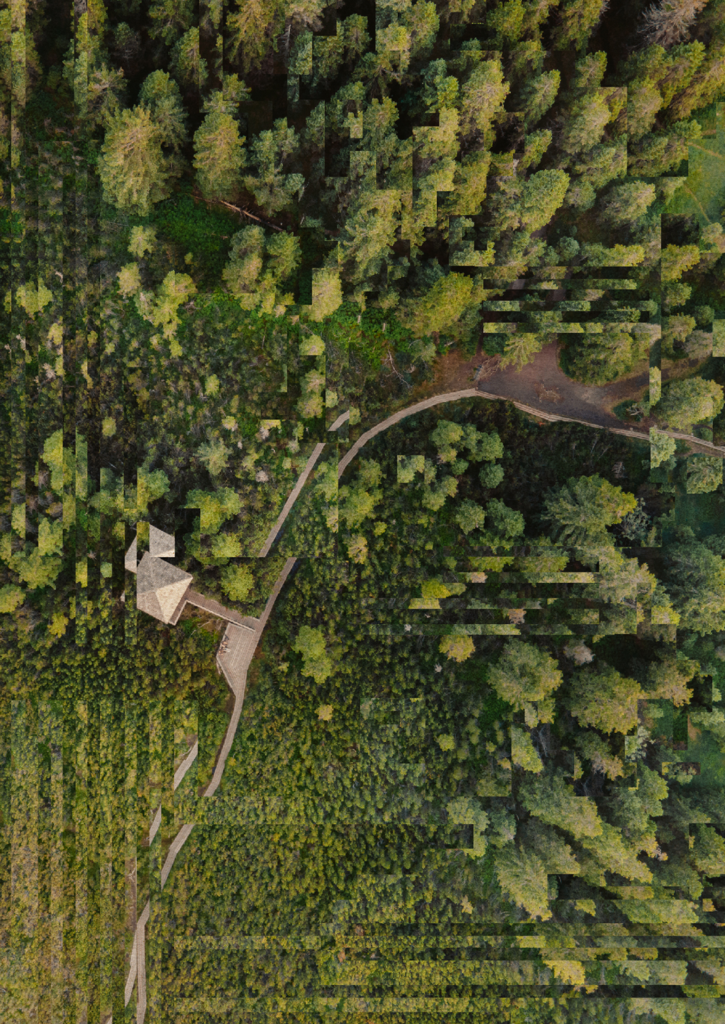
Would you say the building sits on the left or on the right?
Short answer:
left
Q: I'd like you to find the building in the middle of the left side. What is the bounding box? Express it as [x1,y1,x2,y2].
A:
[123,551,199,627]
